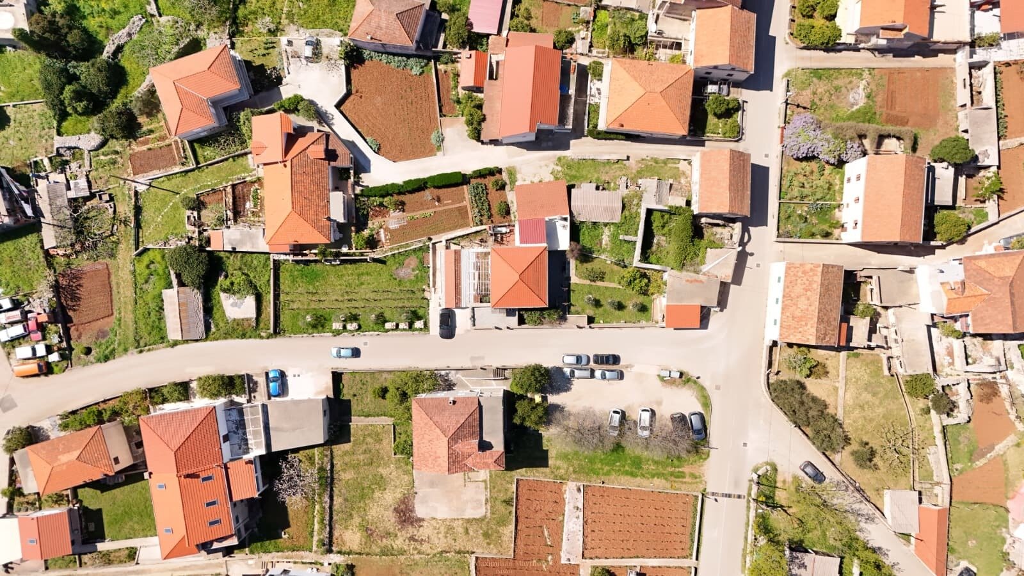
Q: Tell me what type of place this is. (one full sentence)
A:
This image shows a residential area.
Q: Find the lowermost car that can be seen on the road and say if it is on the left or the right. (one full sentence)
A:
The lowermost car that can be seen on the road is on the right side of the image.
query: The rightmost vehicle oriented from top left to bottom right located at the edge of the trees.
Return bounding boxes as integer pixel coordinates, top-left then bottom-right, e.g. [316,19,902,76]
[798,459,826,485]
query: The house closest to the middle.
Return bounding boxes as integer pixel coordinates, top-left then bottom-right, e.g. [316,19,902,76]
[490,245,548,309]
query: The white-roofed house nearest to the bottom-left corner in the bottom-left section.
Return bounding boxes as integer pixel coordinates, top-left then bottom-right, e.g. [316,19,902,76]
[0,508,31,565]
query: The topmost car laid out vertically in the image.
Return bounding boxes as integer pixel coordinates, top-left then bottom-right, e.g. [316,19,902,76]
[303,35,316,62]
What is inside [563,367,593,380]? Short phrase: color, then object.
white vehicle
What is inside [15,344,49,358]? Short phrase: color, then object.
white car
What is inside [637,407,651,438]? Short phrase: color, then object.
white car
